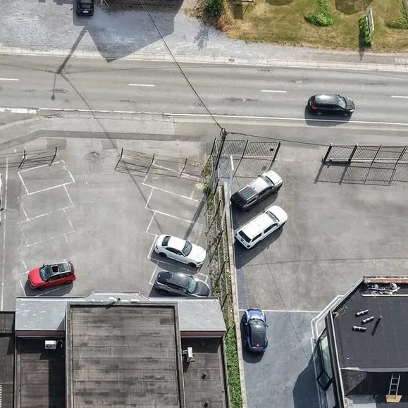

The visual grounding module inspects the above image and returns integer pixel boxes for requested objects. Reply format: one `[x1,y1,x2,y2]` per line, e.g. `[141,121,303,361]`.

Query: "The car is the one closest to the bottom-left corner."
[27,261,77,289]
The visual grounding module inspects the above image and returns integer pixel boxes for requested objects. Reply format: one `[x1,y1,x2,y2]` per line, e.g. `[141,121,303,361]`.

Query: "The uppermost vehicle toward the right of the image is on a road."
[306,93,354,119]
